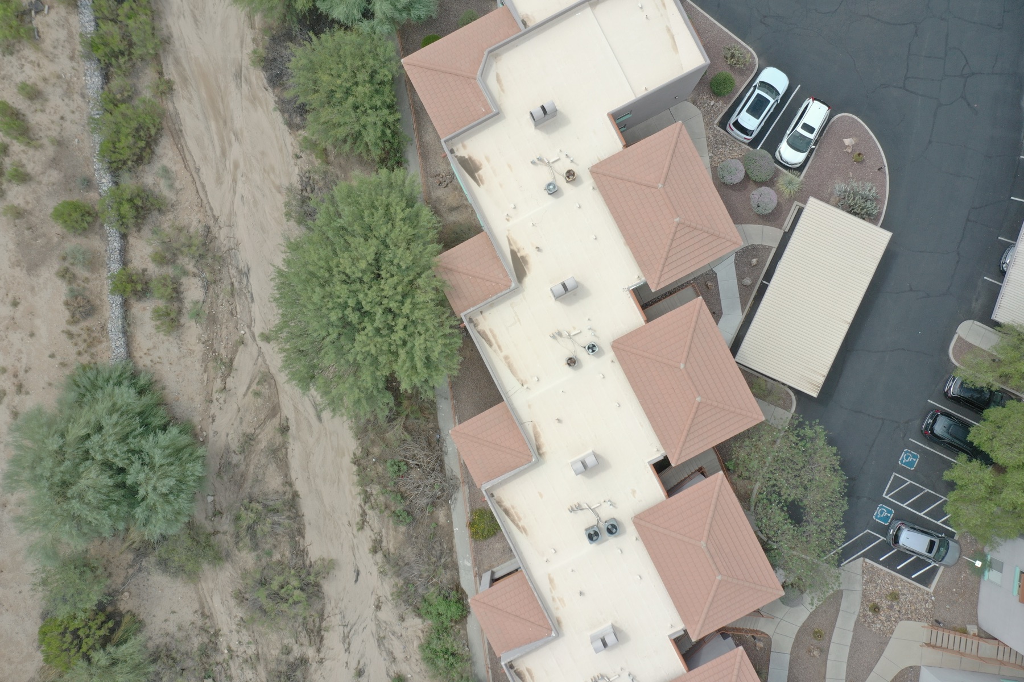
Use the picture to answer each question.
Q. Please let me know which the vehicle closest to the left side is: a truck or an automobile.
automobile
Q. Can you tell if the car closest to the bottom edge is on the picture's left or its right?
right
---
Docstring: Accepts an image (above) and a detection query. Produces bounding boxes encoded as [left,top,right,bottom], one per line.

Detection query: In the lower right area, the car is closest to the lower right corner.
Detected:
[879,518,961,571]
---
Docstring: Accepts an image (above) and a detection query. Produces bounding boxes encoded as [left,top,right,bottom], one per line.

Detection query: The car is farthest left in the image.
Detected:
[725,67,786,149]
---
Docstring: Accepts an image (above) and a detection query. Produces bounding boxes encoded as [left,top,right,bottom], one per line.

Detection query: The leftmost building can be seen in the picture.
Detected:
[401,0,787,682]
